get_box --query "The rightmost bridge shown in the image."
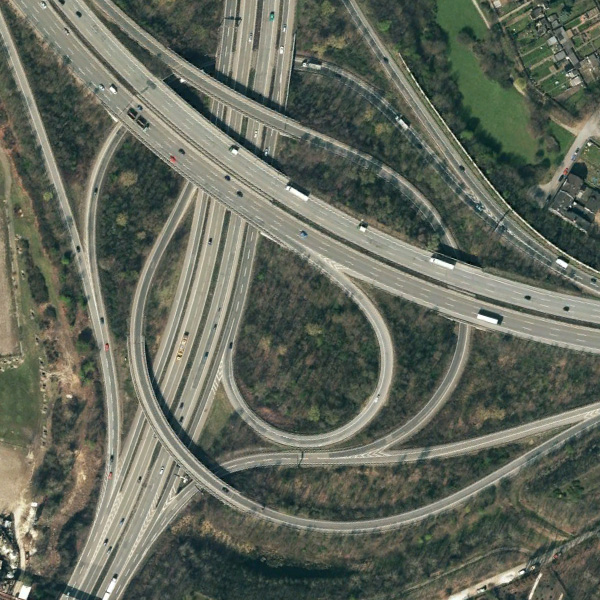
[420,253,493,323]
